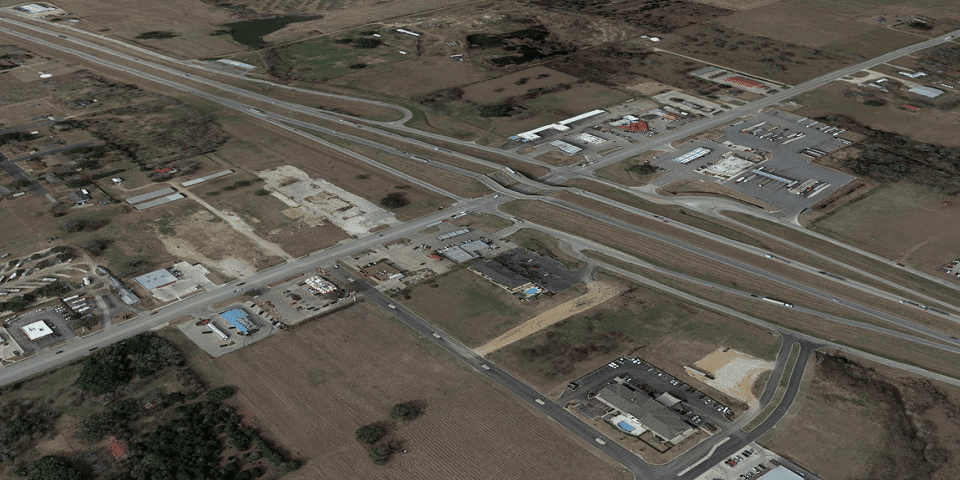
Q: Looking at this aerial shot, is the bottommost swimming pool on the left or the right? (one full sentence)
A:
The bottommost swimming pool sits on the right side.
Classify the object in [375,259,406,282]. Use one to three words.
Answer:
building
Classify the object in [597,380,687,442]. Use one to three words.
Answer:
building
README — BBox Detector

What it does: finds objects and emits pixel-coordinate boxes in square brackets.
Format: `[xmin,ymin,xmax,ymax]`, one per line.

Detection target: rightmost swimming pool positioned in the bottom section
[611,414,645,435]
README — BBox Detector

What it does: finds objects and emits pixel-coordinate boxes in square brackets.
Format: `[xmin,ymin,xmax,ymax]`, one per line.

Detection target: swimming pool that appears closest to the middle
[518,284,547,300]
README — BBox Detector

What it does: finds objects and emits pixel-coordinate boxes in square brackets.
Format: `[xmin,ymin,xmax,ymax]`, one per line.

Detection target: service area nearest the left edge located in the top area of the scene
[704,155,745,182]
